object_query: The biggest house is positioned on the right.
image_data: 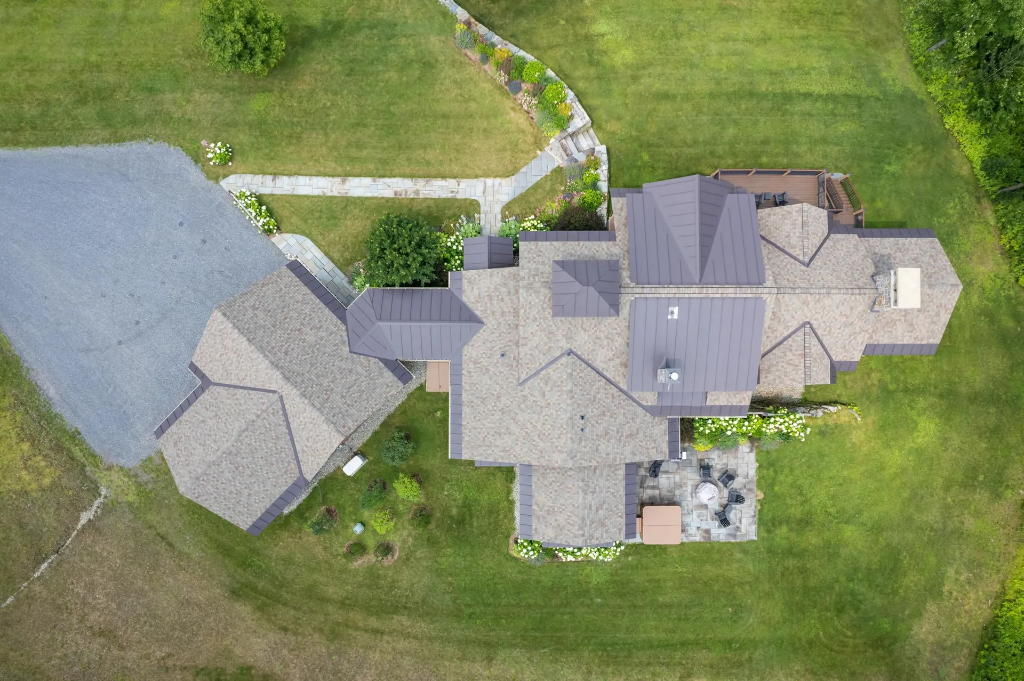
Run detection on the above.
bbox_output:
[345,175,962,548]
